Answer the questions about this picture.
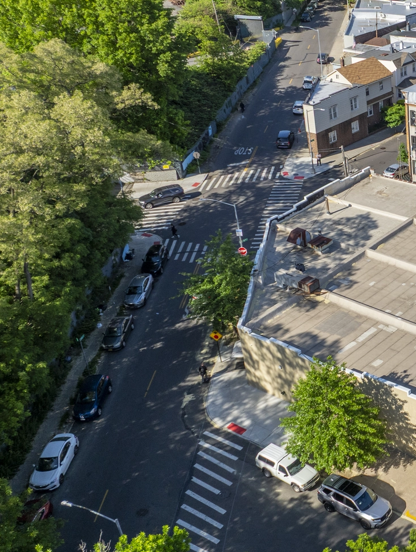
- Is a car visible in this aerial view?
Yes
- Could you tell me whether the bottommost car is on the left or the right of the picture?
right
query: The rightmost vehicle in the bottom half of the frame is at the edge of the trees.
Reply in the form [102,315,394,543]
[307,470,390,531]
